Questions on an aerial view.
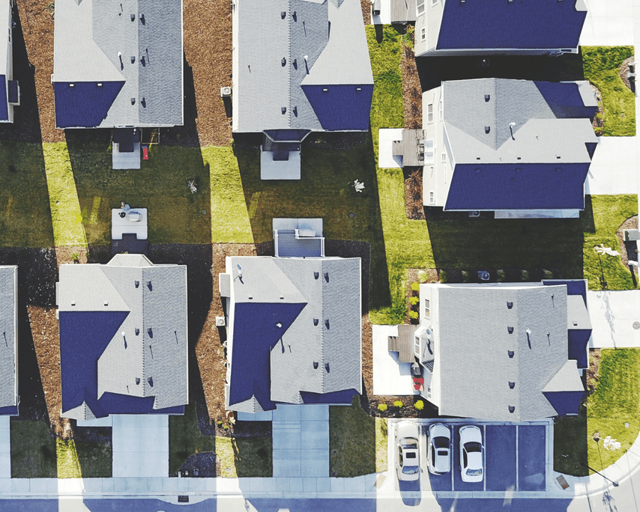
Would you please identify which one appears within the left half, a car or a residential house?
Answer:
residential house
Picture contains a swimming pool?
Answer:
No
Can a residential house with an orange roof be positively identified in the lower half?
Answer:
No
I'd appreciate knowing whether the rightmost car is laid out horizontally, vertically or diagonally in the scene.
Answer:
vertically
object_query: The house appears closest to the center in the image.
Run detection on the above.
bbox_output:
[215,253,361,414]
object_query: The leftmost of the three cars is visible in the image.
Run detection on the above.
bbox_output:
[396,422,425,480]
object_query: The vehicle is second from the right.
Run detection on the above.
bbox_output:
[428,423,456,475]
